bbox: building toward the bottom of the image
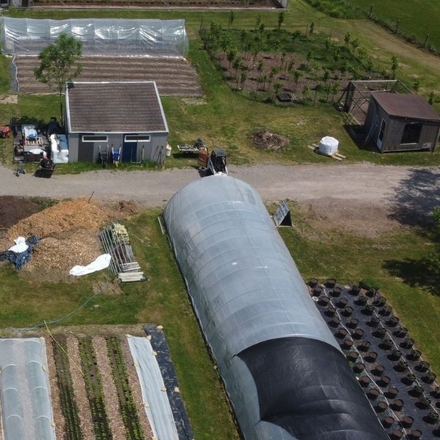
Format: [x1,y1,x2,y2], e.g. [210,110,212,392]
[159,170,344,440]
